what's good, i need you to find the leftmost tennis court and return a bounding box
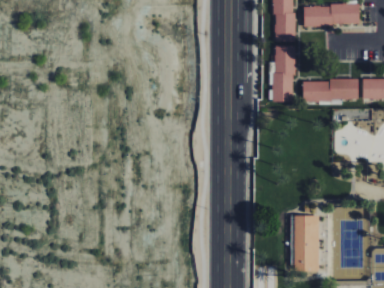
[335,207,370,280]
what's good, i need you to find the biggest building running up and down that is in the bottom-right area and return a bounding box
[295,216,320,272]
